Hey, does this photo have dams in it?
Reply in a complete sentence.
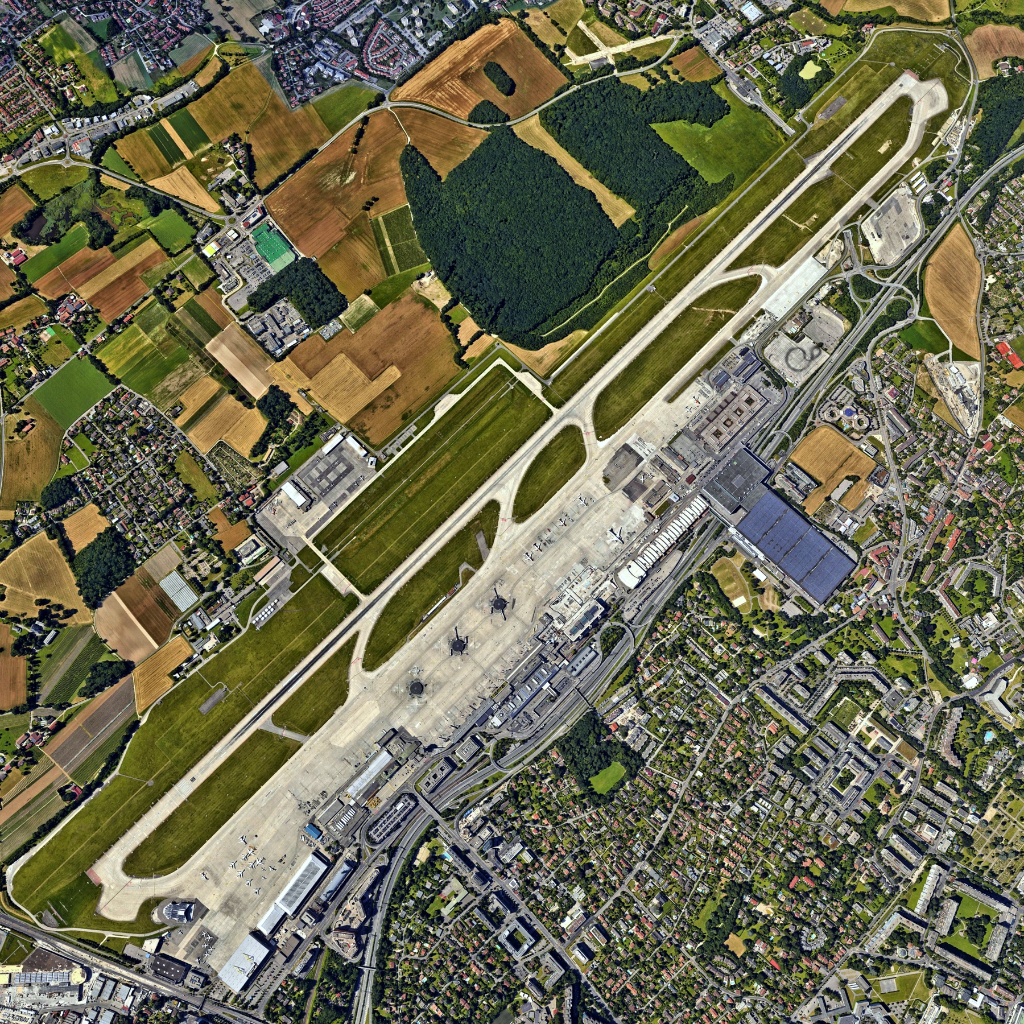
No, there is no dam in the image.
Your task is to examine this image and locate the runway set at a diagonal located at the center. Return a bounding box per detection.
[86,67,920,886]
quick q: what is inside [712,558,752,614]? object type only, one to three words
sports field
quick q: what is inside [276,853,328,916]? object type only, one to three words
hangar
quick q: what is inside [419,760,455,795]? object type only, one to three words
building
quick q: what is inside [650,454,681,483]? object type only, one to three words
building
